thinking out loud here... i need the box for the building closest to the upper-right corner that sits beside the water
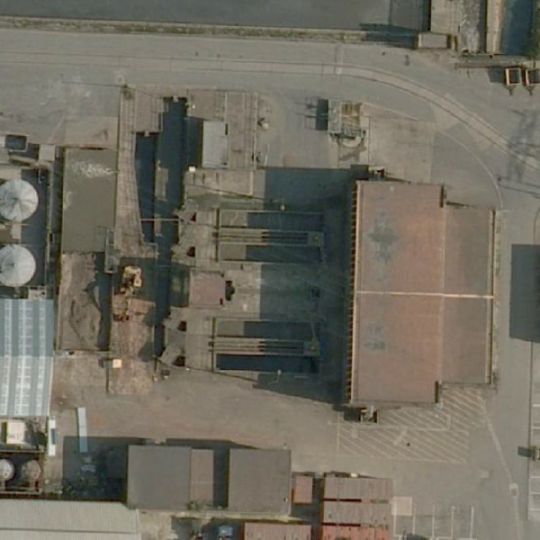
[416,34,448,49]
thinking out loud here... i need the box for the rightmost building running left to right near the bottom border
[123,447,291,515]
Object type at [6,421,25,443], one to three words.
shed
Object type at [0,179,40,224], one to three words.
storage tank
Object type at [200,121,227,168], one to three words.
house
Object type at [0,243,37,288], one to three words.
storage tank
